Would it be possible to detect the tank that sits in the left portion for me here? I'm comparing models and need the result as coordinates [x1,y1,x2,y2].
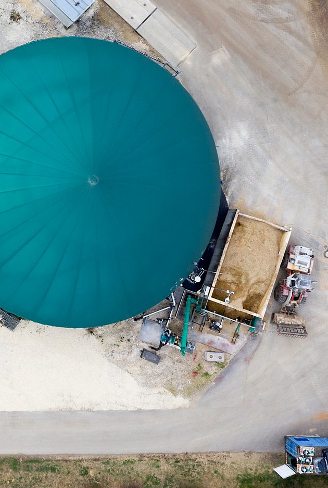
[0,36,224,329]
